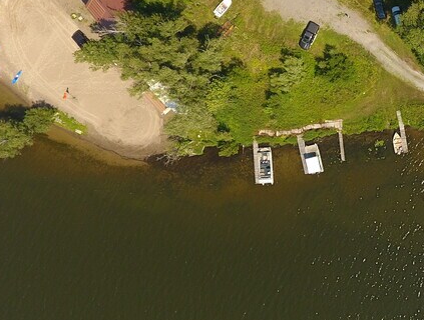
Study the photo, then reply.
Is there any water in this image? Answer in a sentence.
Yes, water can be seen from above here.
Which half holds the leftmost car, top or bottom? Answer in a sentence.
It is in the top half that the leftmost car appears.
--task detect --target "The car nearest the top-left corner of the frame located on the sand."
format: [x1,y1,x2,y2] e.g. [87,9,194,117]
[67,28,92,50]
